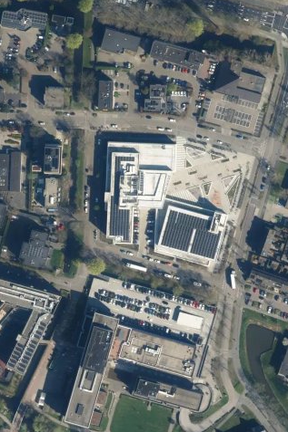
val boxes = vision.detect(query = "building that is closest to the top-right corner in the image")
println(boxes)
[217,60,269,103]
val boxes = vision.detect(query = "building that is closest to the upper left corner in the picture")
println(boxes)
[1,8,48,31]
